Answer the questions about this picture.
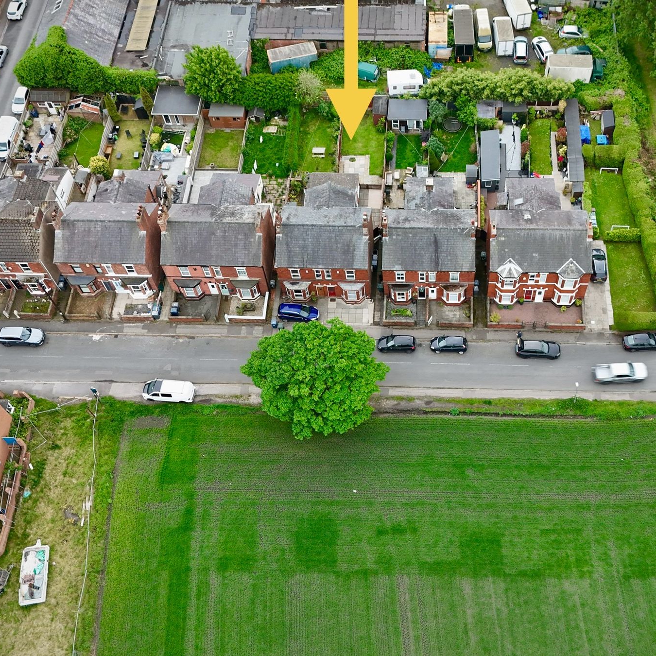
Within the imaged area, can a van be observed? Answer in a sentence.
Yes, there's a van down there.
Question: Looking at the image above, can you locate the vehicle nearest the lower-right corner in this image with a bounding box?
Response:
[593,360,653,385]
